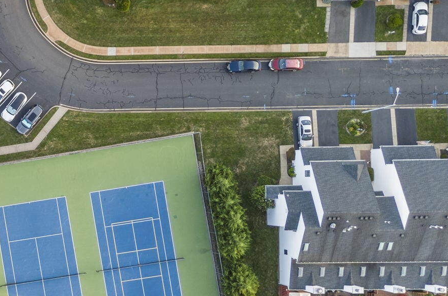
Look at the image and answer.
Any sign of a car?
Yes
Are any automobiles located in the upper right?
Yes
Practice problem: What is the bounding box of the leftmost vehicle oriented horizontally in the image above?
[227,59,261,74]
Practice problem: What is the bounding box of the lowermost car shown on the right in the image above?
[297,115,315,146]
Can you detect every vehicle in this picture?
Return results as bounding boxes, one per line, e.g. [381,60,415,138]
[1,92,27,122]
[269,57,302,72]
[16,104,43,134]
[0,78,15,103]
[411,2,430,35]
[297,115,315,146]
[227,59,261,74]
